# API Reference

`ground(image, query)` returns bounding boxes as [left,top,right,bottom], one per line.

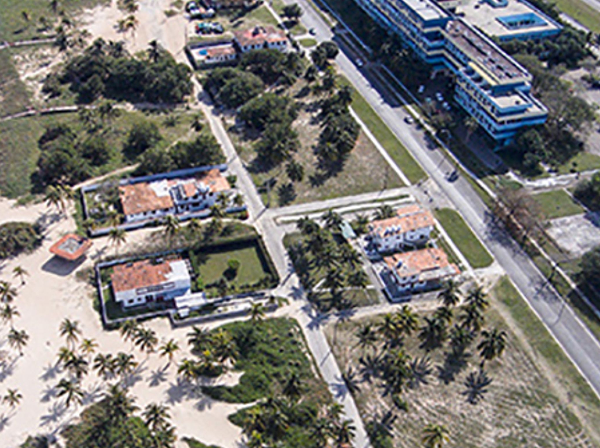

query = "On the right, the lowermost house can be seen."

[379,251,467,297]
